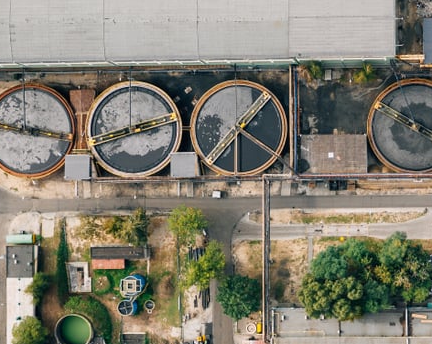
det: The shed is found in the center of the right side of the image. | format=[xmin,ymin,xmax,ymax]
[300,134,367,175]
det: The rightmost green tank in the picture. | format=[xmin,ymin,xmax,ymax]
[55,312,98,344]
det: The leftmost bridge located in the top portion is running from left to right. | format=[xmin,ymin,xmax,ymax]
[0,123,73,142]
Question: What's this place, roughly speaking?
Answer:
industrial area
